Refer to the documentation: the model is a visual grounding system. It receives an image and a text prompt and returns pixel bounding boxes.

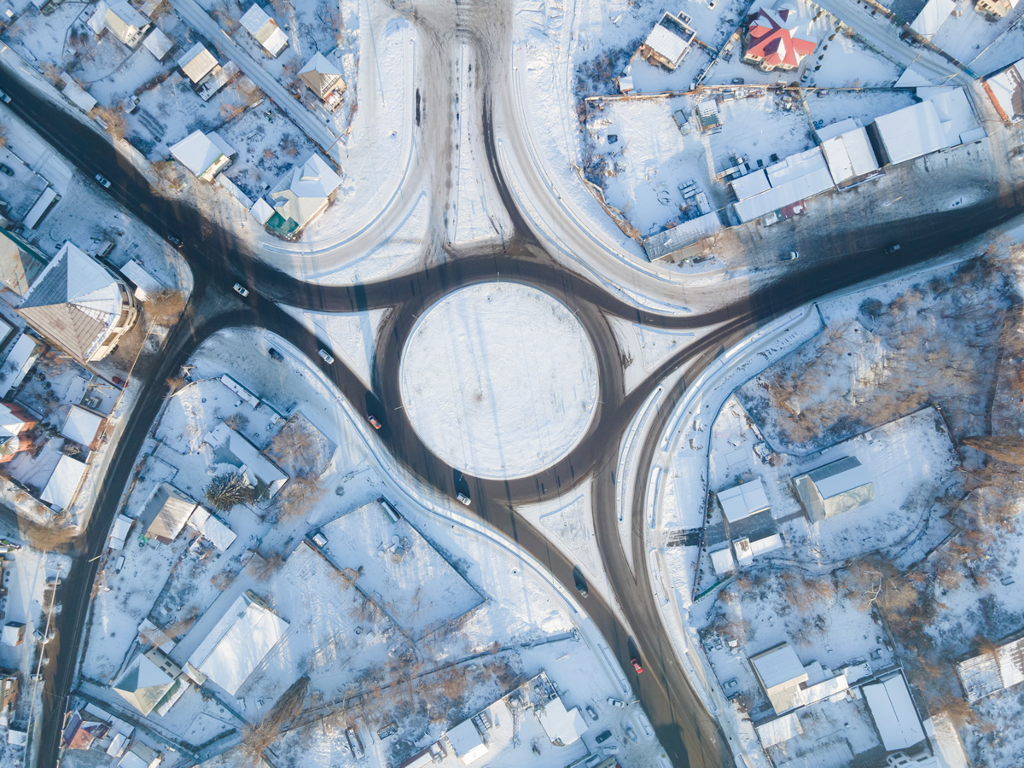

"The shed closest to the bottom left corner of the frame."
[8,726,33,746]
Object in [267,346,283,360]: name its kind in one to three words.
car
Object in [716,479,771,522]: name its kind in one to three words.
building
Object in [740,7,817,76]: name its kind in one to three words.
house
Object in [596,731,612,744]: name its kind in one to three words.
vehicle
